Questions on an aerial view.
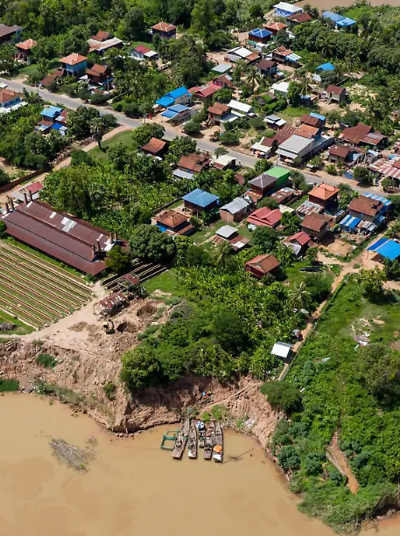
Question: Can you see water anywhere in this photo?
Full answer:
Yes, water shows up in the scene.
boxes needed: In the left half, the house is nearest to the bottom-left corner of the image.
[92,289,126,317]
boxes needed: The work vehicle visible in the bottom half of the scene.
[104,314,119,332]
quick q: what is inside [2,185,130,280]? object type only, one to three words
shed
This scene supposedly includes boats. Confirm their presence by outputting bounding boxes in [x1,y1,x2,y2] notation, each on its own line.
[196,420,204,448]
[189,419,196,458]
[205,421,215,459]
[214,422,224,462]
[174,416,191,459]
